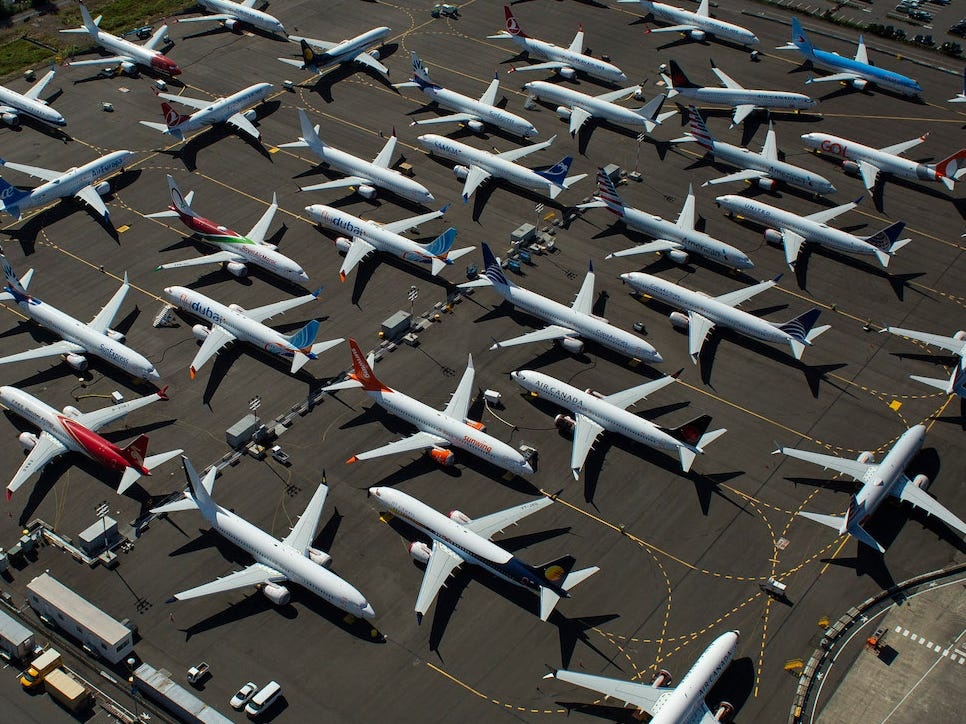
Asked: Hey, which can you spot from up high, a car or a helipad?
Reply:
car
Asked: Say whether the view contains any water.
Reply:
No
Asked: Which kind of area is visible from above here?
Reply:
airport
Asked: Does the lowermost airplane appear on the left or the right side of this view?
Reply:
right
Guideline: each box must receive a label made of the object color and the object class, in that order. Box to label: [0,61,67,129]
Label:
white airplane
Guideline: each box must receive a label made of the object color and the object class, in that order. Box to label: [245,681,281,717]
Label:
white van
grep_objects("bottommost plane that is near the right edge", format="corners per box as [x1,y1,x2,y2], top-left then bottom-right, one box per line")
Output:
[771,424,966,554]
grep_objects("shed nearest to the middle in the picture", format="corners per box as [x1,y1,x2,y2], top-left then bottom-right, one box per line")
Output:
[381,310,411,339]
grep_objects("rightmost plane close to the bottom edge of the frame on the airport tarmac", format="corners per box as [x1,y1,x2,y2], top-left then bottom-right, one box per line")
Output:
[542,631,742,724]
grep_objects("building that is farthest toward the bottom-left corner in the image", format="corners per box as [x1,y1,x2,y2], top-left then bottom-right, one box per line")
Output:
[0,604,36,658]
